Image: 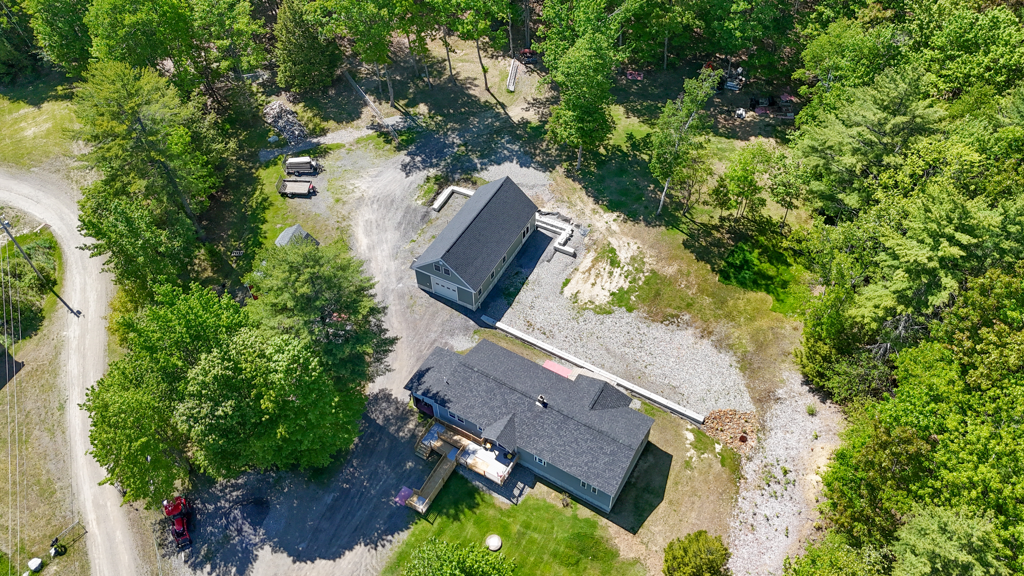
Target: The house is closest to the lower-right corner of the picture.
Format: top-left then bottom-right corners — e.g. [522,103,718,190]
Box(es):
[402,339,655,513]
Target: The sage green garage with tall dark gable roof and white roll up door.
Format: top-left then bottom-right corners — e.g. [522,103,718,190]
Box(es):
[411,175,539,311]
